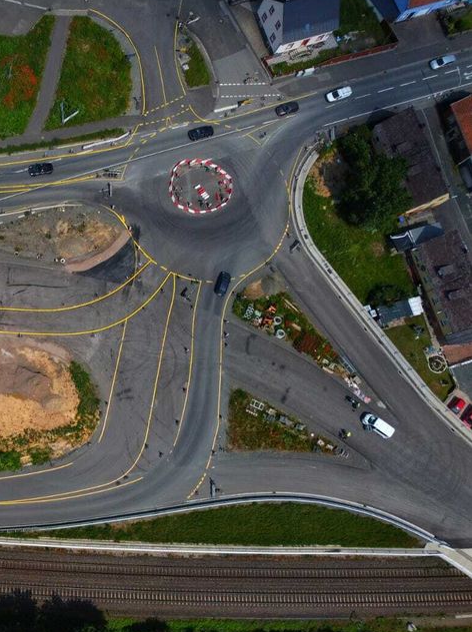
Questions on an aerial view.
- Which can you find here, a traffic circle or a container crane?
traffic circle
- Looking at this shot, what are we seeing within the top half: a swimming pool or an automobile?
automobile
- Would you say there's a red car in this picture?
Yes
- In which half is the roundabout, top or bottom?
top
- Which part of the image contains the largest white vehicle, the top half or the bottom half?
bottom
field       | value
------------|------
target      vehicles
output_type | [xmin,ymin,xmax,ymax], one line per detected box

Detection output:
[215,270,230,296]
[461,408,472,431]
[325,84,353,102]
[358,415,395,439]
[427,53,458,69]
[27,162,53,176]
[449,396,468,416]
[273,100,300,117]
[186,125,216,140]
